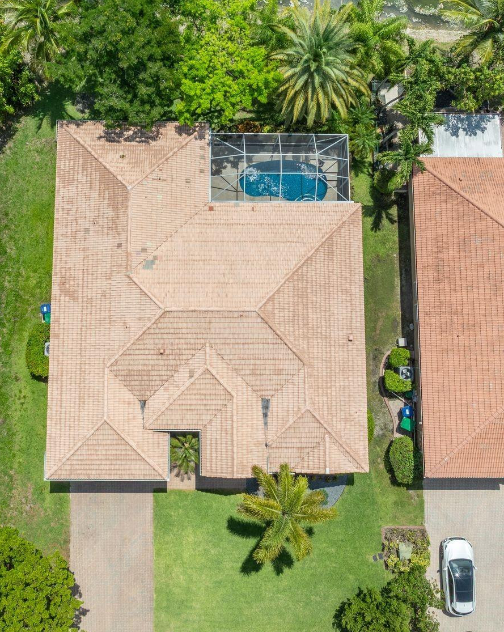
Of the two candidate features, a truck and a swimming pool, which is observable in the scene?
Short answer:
swimming pool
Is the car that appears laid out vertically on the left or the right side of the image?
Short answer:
right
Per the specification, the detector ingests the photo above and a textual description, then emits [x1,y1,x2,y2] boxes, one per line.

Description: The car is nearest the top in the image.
[436,534,477,620]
